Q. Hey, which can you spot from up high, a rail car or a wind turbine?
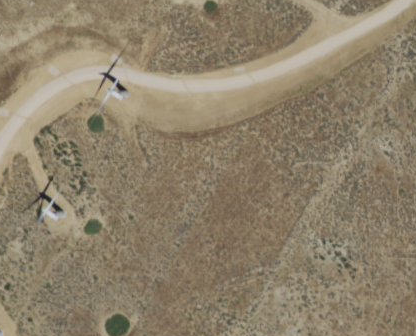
wind turbine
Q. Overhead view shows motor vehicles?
No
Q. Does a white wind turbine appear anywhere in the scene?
Yes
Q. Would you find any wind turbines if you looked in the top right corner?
No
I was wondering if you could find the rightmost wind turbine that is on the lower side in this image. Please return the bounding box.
[26,178,66,234]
